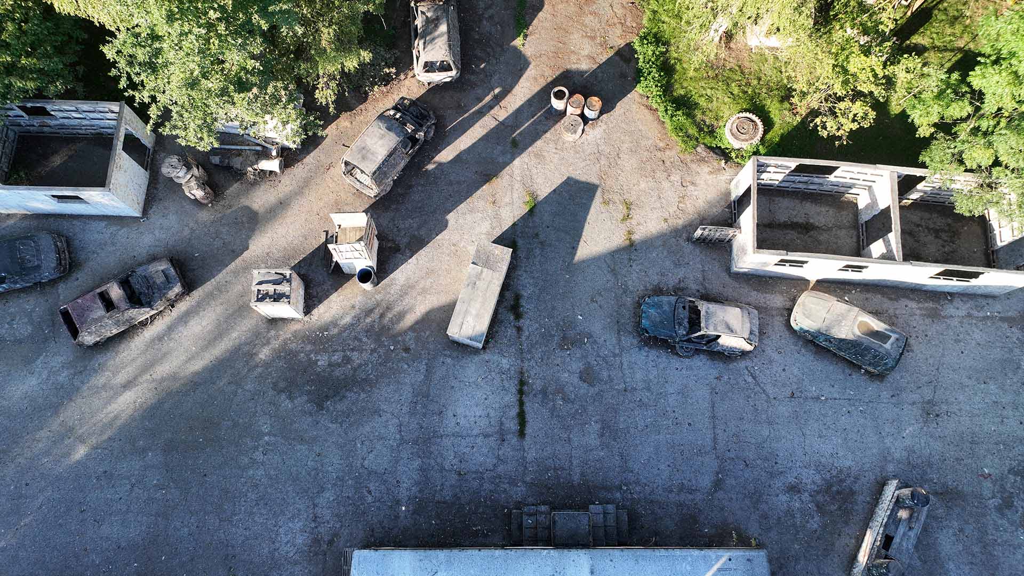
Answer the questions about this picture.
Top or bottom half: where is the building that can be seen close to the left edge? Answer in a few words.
top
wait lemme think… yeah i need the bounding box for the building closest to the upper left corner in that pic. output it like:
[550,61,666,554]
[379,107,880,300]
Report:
[0,99,156,215]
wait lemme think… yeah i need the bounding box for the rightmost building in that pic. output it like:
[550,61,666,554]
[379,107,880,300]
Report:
[733,154,1024,301]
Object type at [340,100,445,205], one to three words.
car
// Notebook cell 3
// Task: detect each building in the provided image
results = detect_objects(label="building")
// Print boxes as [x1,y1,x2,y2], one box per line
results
[733,154,1024,301]
[349,548,770,576]
[0,99,156,215]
